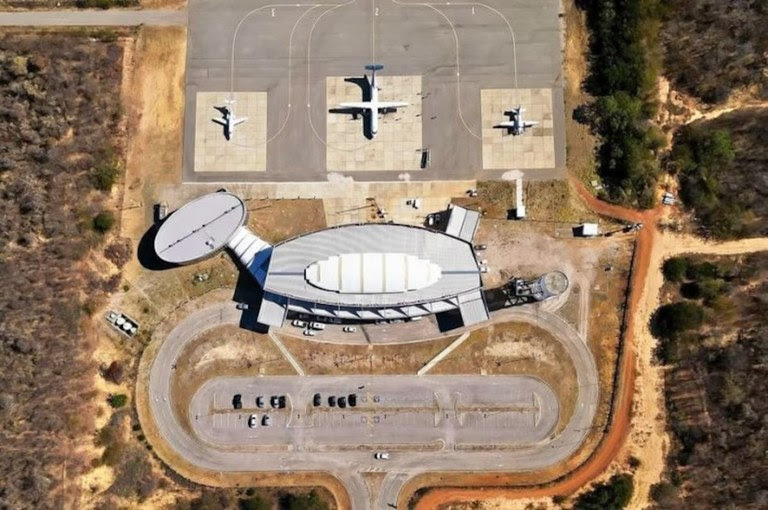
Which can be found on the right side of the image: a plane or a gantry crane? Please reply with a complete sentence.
What appears on the right side of the image is a plane.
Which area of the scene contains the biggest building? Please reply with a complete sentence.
You can find the biggest building in the center area of the picture.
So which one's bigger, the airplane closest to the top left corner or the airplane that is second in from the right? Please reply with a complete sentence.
Compared with the airplane closest to the top left corner, the airplane that is second in from the right is the bigger one.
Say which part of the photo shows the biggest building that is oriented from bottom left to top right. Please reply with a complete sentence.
The biggest building that is oriented from bottom left to top right appears toward the left of the photo.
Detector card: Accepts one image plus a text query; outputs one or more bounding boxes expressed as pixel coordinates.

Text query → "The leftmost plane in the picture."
[212,100,248,139]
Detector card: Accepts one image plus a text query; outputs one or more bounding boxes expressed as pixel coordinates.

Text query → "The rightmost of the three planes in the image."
[501,103,540,134]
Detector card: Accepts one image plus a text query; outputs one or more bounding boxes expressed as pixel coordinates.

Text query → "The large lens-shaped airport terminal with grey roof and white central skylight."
[225,206,490,327]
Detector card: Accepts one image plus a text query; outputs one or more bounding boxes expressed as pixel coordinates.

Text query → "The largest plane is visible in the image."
[339,67,410,139]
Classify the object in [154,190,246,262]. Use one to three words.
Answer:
building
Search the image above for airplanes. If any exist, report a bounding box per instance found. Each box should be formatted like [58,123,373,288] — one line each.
[339,67,410,139]
[212,100,248,139]
[501,103,540,134]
